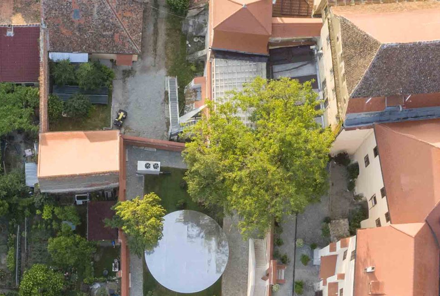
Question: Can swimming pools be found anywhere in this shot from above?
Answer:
No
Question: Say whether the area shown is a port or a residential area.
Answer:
residential area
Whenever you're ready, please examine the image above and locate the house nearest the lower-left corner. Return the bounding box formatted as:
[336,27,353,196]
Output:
[38,130,120,191]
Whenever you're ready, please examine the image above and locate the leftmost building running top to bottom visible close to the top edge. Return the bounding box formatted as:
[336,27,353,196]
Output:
[0,0,40,86]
